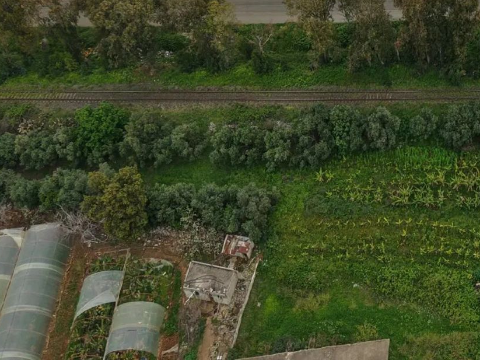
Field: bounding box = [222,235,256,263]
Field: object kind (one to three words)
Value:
shed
